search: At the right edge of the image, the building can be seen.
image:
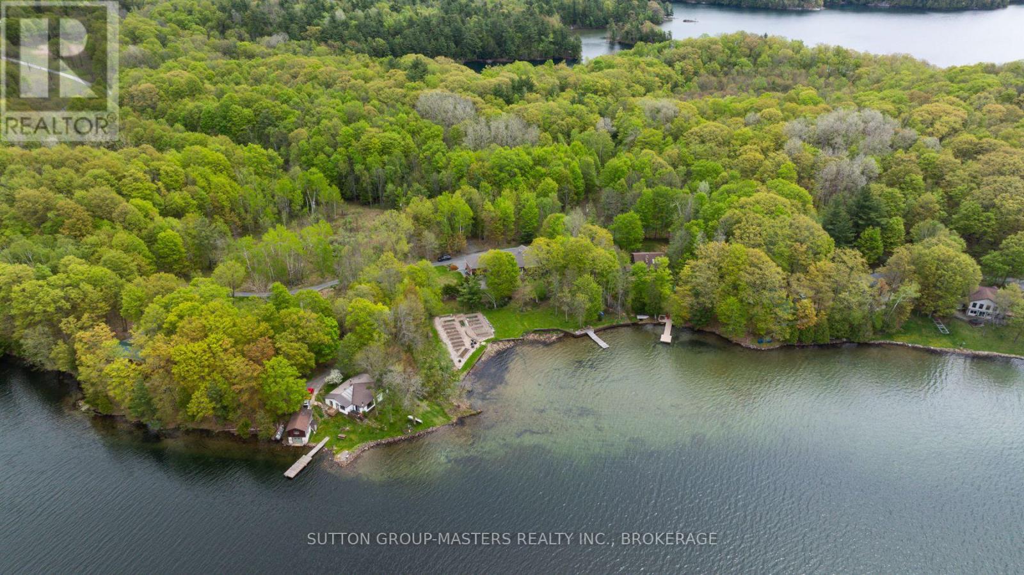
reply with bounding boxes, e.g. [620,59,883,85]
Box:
[962,284,1003,321]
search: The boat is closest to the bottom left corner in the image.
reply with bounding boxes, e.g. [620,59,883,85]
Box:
[273,421,285,441]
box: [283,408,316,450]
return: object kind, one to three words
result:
building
